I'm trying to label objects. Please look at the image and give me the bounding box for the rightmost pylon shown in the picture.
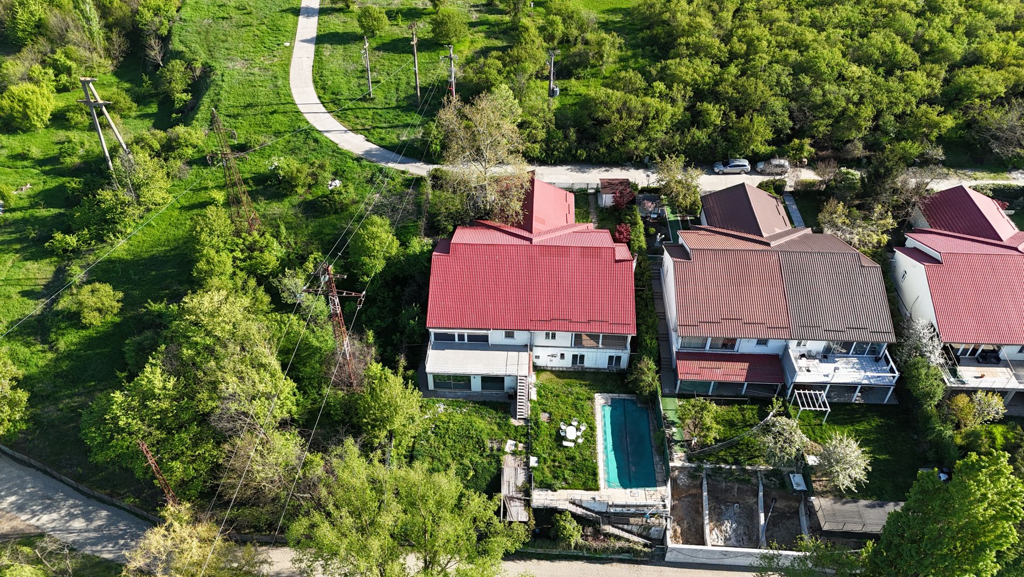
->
[304,263,364,378]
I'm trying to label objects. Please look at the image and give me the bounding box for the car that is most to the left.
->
[713,159,753,176]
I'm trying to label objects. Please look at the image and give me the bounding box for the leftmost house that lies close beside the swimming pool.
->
[415,175,640,427]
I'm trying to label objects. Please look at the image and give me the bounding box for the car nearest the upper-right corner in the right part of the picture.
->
[755,159,793,176]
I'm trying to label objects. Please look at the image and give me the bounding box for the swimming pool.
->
[595,392,668,492]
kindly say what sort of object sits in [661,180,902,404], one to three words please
house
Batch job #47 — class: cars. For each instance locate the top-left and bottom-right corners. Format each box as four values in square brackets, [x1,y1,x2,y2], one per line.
[713,159,753,176]
[755,159,793,176]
